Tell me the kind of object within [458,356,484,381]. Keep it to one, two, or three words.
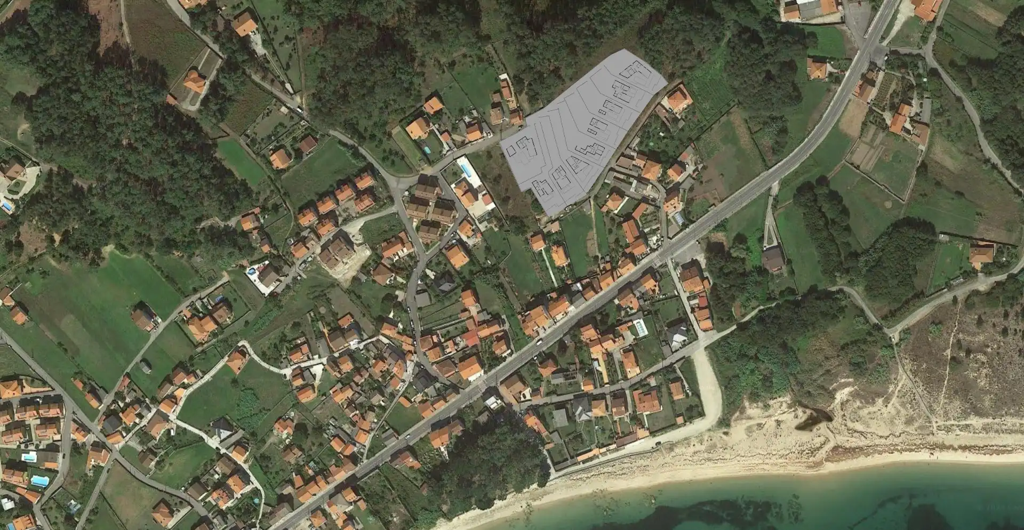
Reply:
house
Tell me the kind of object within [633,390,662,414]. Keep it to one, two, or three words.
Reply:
house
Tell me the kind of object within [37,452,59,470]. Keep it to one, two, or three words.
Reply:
building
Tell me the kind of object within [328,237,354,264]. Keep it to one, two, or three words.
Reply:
building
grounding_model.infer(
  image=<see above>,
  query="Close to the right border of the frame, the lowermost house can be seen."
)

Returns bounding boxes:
[969,242,996,279]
